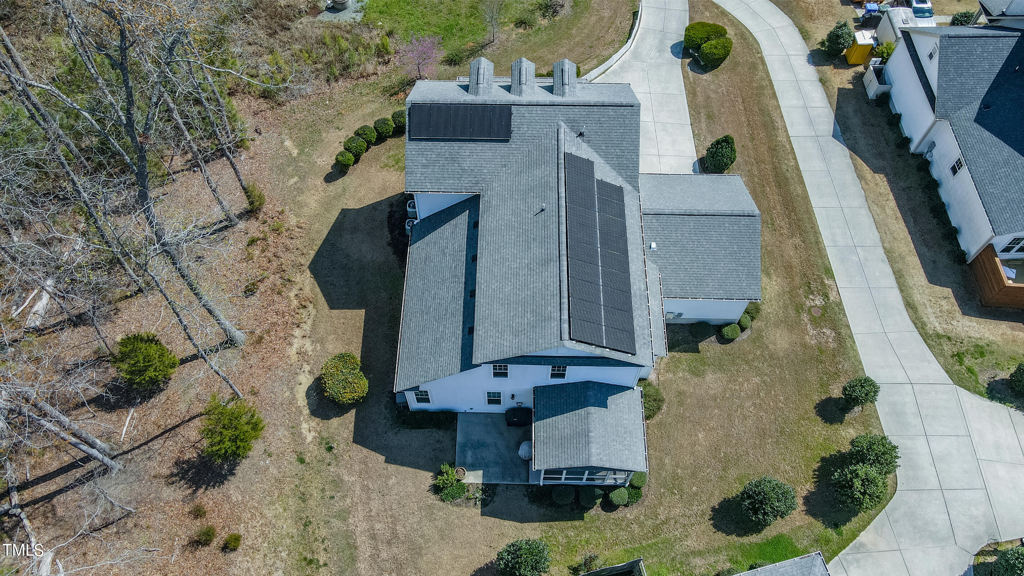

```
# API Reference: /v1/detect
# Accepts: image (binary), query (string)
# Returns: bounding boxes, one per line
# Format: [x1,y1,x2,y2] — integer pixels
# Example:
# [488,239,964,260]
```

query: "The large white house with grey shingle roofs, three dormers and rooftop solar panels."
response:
[392,57,762,487]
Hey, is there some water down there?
No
